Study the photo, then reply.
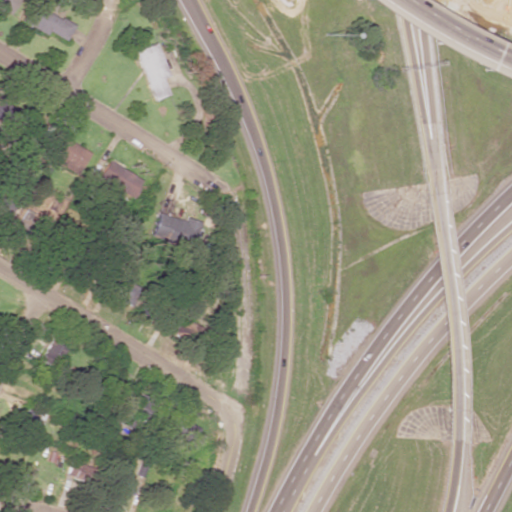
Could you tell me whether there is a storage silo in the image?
No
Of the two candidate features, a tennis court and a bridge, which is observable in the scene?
bridge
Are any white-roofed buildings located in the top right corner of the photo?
No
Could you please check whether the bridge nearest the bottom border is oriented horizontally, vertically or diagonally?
vertically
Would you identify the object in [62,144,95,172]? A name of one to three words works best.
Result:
house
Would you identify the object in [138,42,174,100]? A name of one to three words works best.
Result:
house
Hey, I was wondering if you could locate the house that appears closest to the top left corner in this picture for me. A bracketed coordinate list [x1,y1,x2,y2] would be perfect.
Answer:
[36,12,78,42]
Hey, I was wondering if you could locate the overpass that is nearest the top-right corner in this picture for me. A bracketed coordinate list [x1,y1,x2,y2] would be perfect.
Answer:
[378,0,512,80]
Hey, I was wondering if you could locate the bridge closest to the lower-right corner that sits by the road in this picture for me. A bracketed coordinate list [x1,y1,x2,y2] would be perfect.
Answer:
[426,183,474,440]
